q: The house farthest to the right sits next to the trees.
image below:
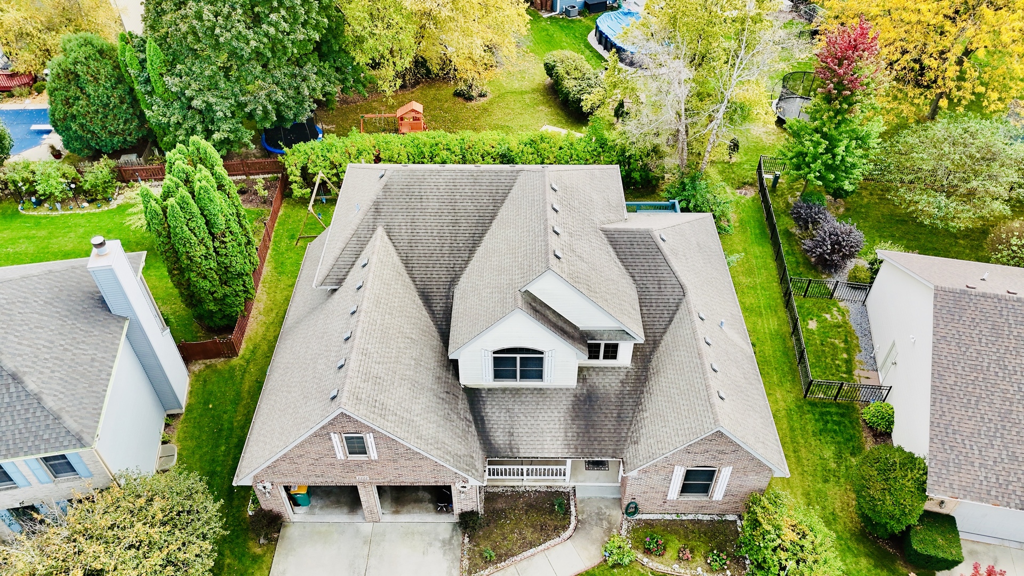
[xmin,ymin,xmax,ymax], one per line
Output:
[867,254,1024,548]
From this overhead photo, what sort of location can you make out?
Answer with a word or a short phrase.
residential area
